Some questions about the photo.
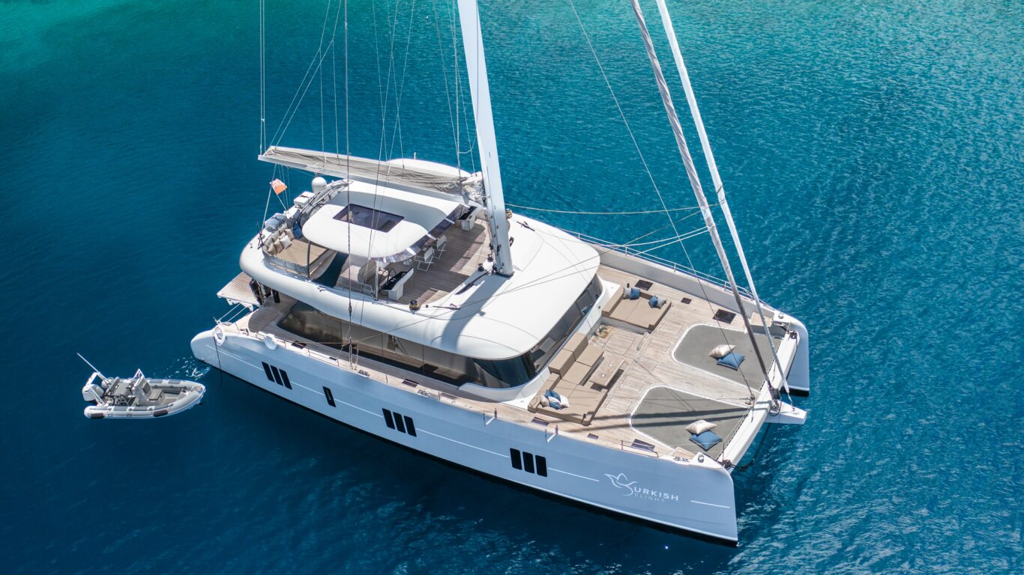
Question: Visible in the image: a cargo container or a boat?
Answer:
boat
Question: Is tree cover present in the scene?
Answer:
No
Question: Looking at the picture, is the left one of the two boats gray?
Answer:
Yes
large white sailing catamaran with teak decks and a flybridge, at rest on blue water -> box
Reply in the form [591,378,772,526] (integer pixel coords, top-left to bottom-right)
[192,0,811,545]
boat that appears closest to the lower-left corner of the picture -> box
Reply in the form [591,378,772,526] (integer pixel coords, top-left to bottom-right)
[73,353,206,422]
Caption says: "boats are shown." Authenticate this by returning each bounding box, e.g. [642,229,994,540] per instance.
[73,353,206,422]
[192,0,811,545]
